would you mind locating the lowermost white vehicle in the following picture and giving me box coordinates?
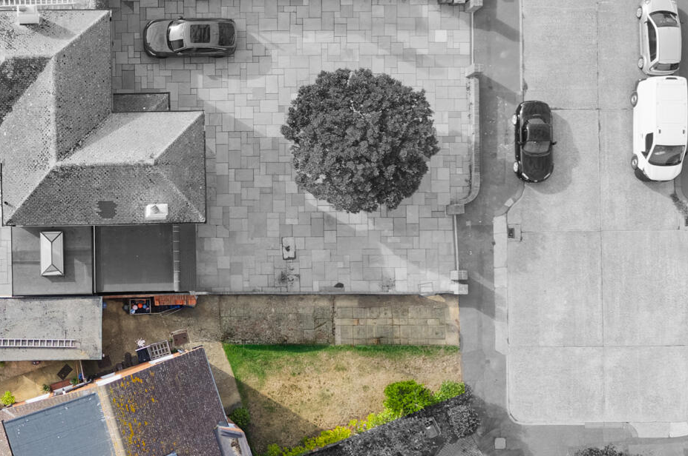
[626,70,688,183]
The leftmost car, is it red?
No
